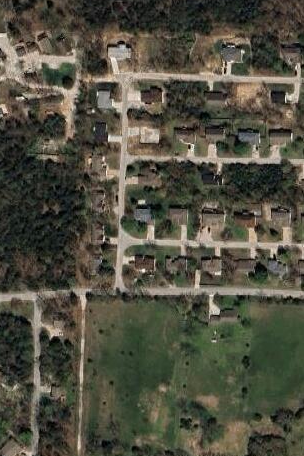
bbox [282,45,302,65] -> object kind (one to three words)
house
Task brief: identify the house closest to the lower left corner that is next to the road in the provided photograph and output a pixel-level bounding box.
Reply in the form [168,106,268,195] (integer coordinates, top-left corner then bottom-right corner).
[0,436,30,456]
